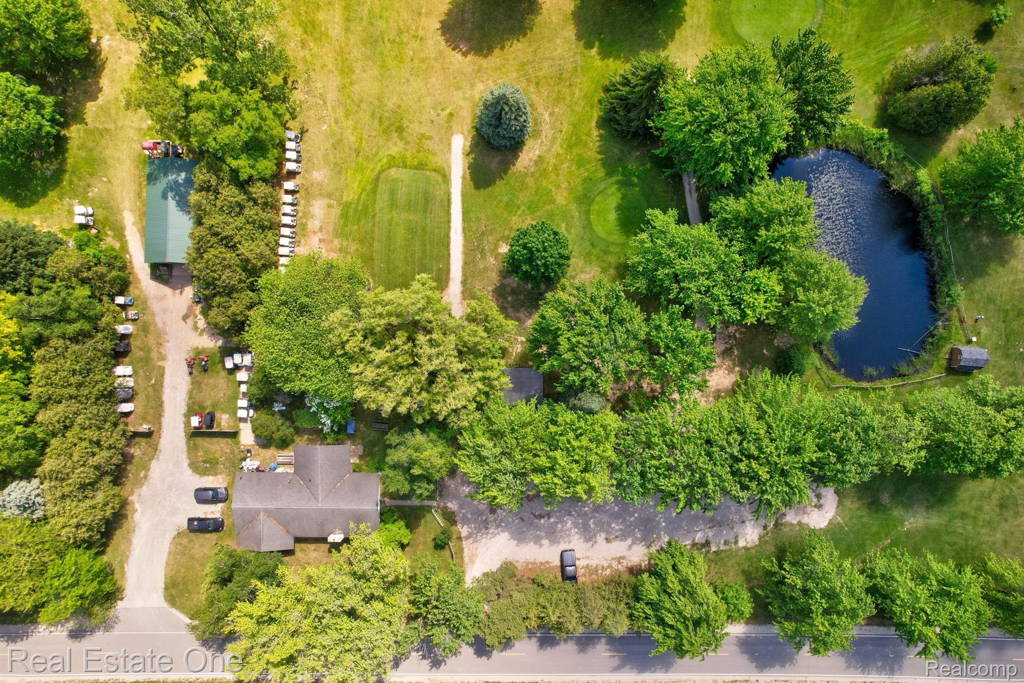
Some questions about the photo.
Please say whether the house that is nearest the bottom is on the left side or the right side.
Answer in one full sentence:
It is on the left.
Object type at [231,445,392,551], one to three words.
house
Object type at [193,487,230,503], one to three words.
car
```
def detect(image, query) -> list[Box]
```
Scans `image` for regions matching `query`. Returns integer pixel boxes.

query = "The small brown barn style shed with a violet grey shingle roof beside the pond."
[940,347,992,370]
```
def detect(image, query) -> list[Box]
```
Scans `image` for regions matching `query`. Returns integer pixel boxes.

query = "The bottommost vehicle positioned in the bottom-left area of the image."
[187,516,225,533]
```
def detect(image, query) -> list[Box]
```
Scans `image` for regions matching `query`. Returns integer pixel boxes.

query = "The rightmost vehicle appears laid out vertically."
[562,547,578,585]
